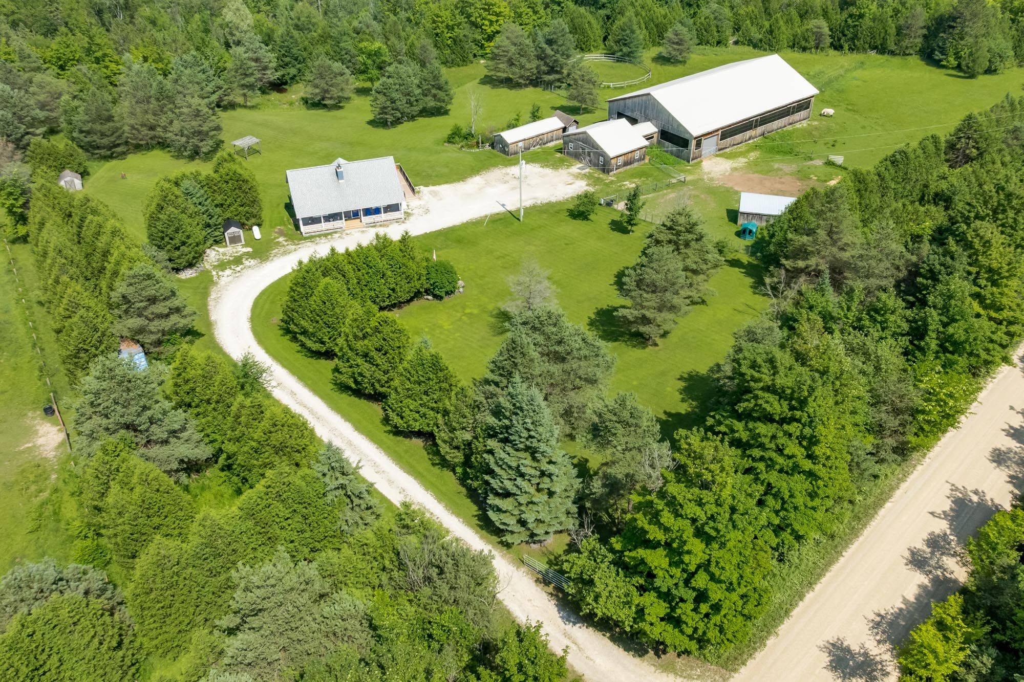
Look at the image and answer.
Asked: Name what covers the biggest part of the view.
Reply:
trees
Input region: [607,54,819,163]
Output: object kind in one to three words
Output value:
barn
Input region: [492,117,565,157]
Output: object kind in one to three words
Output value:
shed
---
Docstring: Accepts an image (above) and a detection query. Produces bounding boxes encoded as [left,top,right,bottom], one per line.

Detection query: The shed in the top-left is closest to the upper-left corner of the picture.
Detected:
[52,167,84,193]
